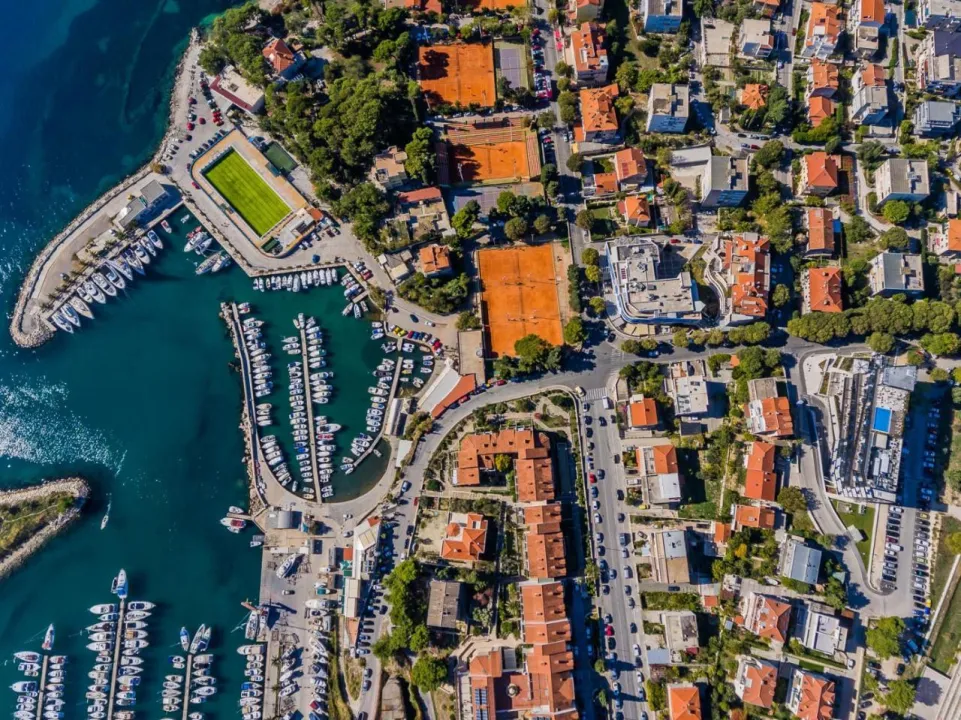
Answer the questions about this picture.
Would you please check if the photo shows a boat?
Yes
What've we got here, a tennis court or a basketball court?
tennis court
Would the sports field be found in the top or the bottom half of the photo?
top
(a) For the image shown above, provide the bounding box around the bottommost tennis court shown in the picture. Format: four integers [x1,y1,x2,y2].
[485,313,563,357]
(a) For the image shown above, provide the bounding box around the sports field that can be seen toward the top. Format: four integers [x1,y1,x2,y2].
[189,125,313,258]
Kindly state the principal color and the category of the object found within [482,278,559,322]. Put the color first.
orange tennis court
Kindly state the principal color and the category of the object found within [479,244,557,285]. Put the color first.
orange tennis court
